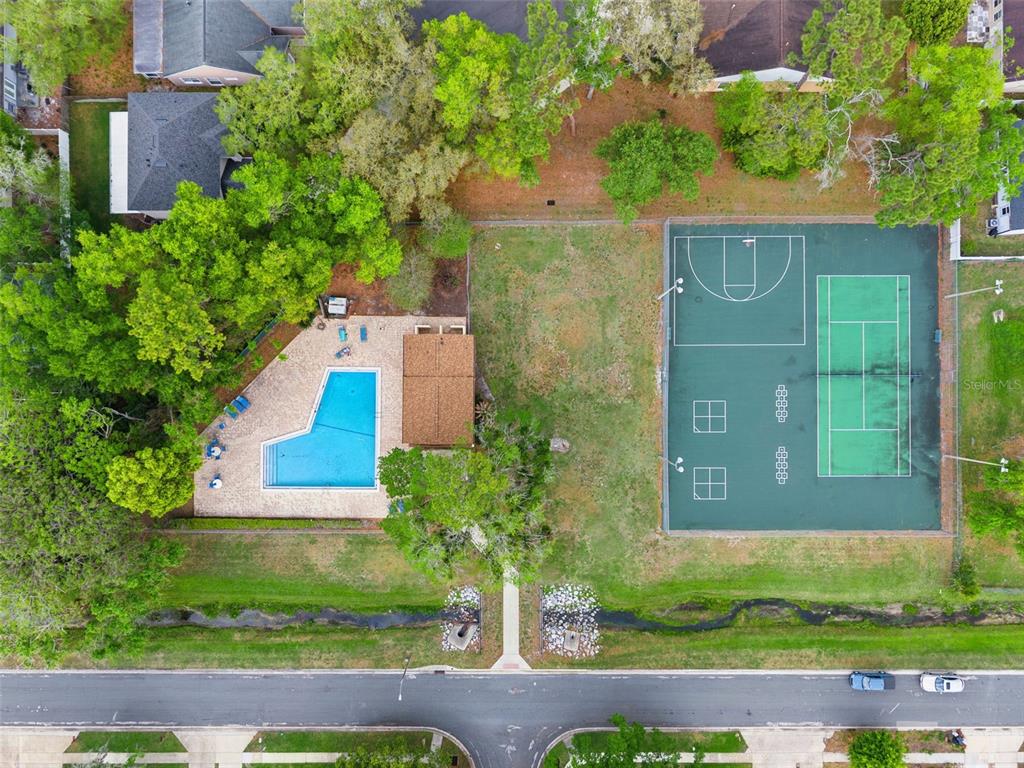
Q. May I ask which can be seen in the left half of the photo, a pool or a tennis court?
pool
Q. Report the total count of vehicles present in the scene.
2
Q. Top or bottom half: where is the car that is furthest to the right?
bottom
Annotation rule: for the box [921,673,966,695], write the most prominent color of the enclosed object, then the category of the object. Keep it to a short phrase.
white car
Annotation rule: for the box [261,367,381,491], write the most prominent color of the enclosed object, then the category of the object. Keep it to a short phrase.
blue swimming pool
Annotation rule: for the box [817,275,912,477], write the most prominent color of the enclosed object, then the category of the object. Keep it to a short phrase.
green tennis court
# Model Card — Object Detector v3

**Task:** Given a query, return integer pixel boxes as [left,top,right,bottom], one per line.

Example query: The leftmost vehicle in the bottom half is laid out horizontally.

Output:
[850,672,900,694]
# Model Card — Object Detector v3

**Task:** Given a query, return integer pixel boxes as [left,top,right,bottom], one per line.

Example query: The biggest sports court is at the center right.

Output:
[663,223,942,532]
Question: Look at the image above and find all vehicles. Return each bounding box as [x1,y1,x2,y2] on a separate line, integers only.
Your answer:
[850,672,900,694]
[921,673,966,695]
